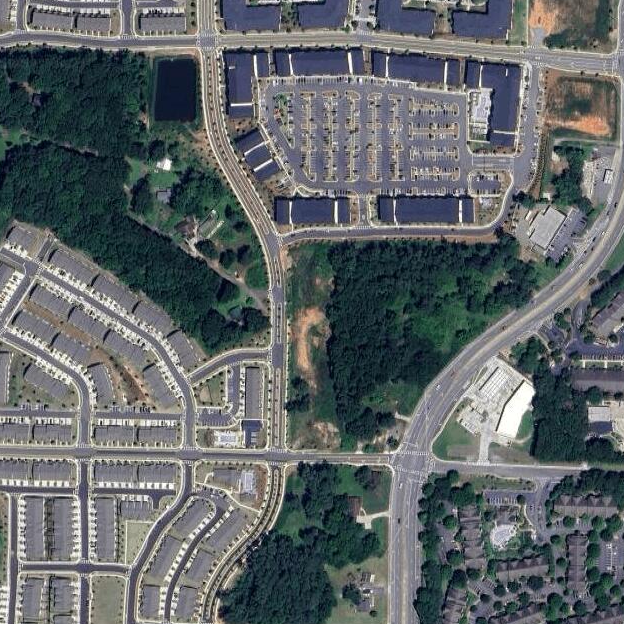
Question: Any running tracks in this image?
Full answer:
No, I can't see a single running track in this photo.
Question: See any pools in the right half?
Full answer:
Yes, in the right half there is a pool.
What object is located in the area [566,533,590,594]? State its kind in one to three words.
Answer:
building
